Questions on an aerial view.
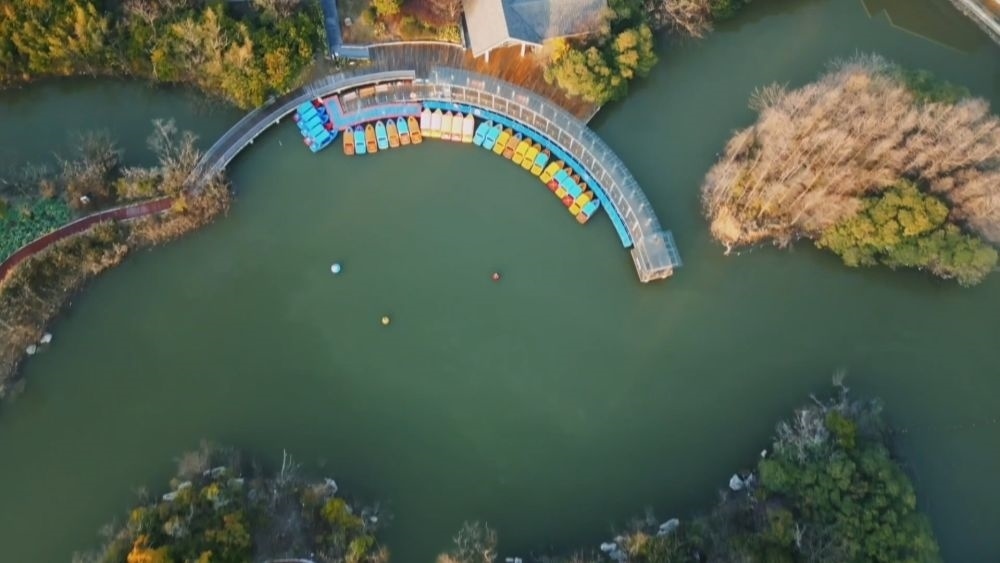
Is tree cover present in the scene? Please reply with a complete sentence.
Yes, tree cover can be seen from above here.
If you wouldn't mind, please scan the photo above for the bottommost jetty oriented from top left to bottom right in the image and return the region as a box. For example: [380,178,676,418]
[346,63,690,282]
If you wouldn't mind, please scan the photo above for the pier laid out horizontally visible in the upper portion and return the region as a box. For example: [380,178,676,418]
[323,96,419,133]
